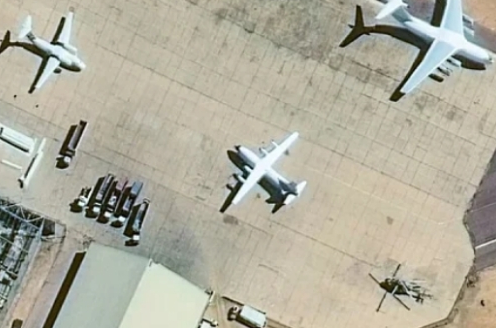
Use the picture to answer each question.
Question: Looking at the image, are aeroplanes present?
Yes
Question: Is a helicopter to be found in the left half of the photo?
No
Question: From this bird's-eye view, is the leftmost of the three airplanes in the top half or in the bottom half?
top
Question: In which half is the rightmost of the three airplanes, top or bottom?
top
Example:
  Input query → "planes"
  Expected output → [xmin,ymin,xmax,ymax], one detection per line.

[376,0,493,90]
[18,12,84,89]
[230,129,307,208]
